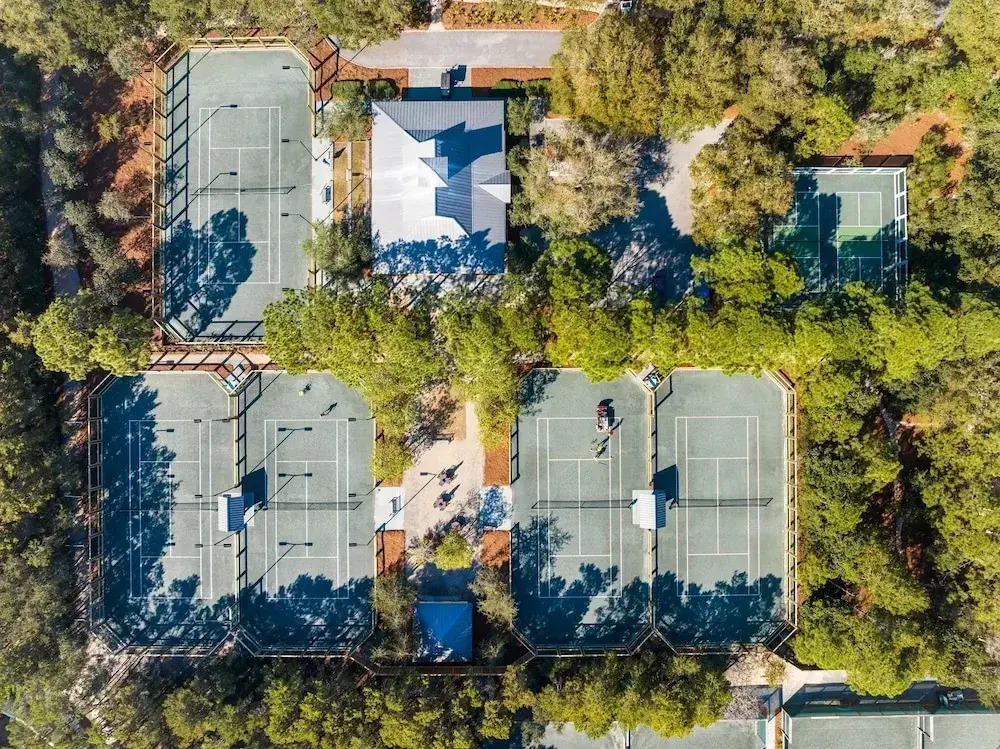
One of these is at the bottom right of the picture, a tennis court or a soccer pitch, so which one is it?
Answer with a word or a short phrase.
tennis court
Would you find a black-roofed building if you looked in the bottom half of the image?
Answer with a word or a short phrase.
No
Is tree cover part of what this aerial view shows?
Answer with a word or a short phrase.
Yes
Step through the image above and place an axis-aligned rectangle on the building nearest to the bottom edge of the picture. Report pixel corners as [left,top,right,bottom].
[414,596,471,659]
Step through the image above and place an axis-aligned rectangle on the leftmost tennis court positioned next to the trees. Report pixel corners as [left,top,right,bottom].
[104,376,238,645]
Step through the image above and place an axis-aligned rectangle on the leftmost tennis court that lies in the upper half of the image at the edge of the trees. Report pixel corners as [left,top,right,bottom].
[167,50,313,340]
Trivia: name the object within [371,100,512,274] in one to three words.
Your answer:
building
